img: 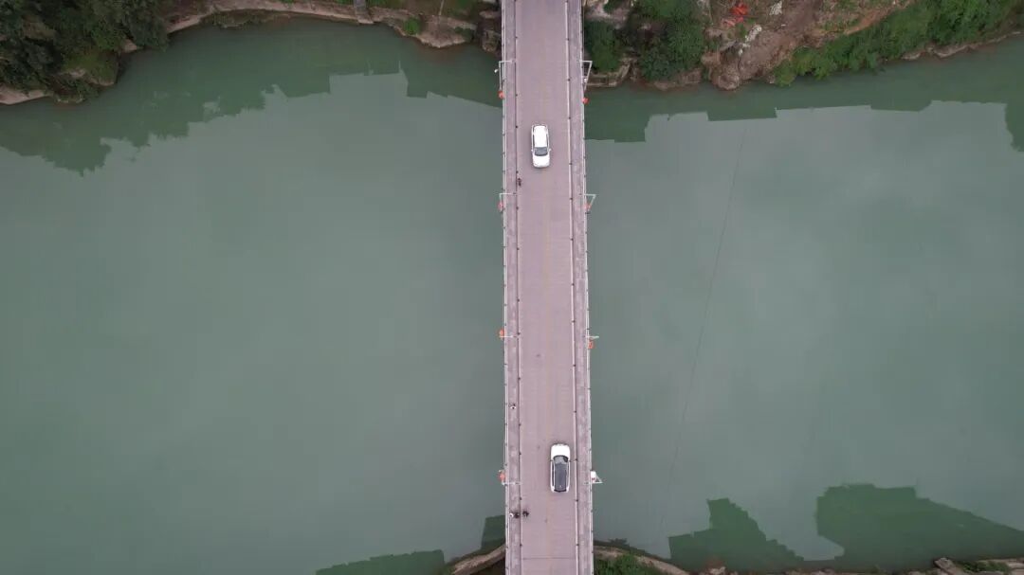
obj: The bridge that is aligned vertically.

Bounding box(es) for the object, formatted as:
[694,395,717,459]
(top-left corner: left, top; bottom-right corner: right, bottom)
[500,0,595,575]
